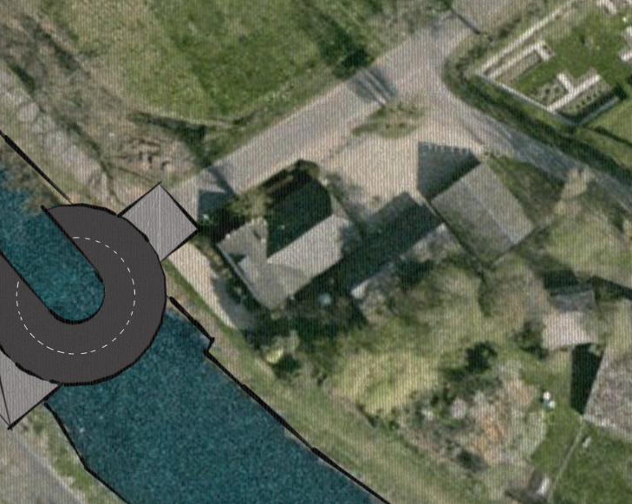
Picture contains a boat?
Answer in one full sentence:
No, there isn't any boat down there.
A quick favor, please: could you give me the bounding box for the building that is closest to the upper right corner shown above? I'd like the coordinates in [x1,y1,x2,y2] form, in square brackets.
[432,162,535,265]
